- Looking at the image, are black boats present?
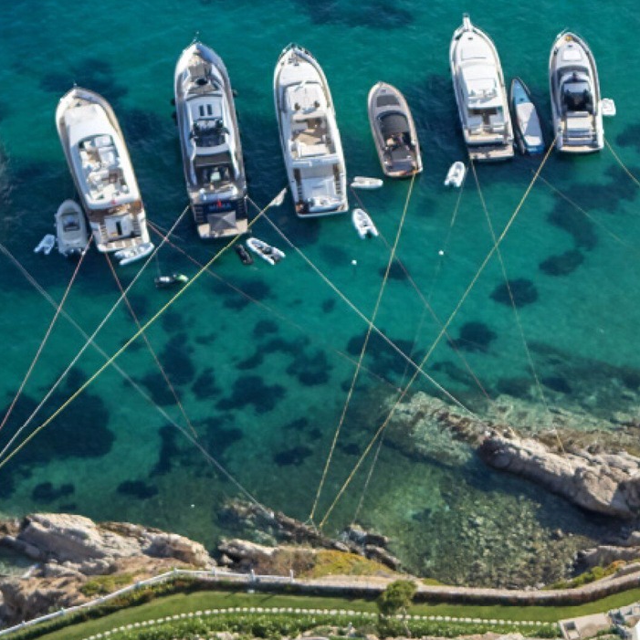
Yes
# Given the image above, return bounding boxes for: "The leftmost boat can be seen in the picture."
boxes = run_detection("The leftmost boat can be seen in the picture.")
[35,234,55,254]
